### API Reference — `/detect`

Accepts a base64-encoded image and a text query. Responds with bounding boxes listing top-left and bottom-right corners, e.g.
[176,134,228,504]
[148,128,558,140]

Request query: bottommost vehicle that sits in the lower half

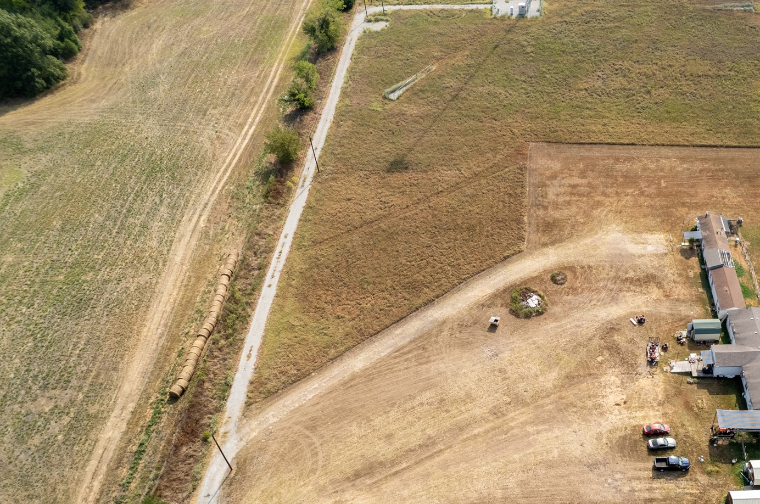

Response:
[653,459,691,474]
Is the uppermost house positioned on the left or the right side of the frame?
right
